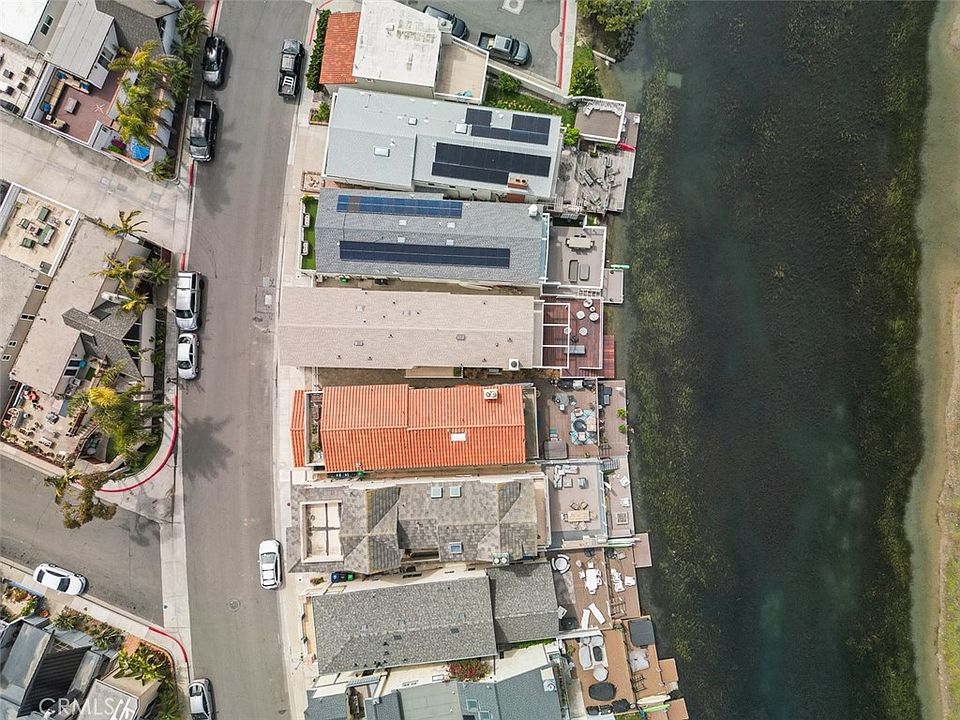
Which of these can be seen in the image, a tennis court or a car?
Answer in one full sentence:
This aerial view contains a car.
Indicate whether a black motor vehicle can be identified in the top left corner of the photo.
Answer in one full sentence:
Yes, a black motor vehicle shows up in the top left corner of the photo.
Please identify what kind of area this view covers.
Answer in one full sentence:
What you see here is a residential area.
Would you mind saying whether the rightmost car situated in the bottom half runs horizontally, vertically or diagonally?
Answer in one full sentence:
In this picture, the rightmost car situated in the bottom half is oriented vertically.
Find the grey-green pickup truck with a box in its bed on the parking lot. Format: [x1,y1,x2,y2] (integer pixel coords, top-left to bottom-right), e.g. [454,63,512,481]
[473,27,532,68]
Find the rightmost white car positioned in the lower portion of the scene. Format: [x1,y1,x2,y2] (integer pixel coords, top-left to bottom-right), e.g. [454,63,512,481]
[257,538,283,589]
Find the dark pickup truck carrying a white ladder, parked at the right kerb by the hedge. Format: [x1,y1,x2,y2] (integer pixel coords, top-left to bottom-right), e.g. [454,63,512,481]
[278,40,304,100]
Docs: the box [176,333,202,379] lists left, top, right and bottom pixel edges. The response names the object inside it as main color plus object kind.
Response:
white car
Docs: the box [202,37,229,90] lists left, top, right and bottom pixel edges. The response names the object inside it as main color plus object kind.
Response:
black car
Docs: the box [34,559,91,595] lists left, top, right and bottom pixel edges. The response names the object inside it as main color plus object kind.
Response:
white car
